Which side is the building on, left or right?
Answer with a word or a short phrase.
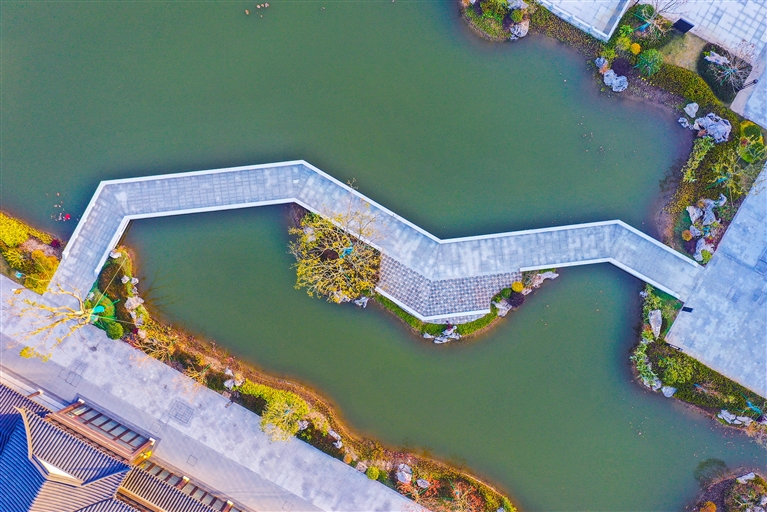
left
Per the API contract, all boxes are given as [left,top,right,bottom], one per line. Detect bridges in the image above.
[48,160,705,324]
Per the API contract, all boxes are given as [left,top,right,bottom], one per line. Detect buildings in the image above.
[0,366,264,512]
